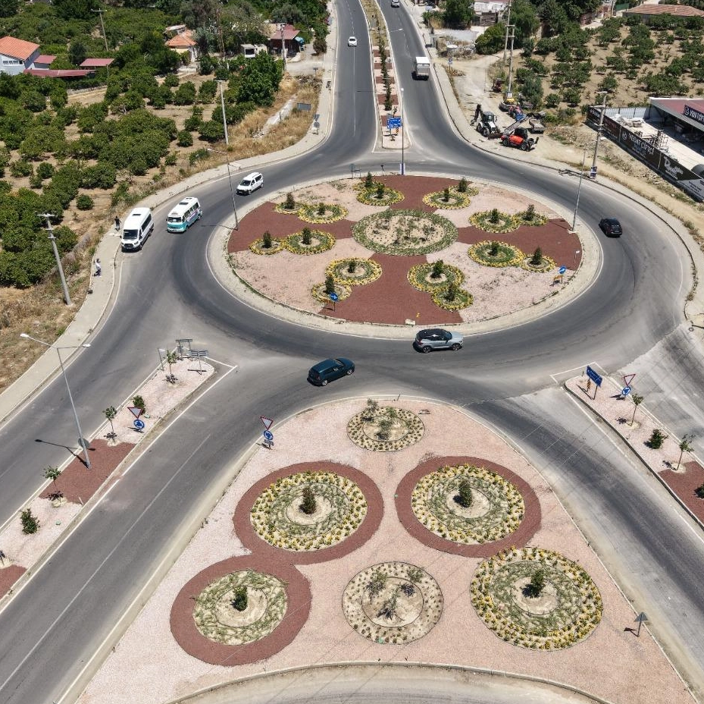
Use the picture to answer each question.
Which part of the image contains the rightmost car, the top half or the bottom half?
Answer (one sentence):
The top half of the photo is where the rightmost car is.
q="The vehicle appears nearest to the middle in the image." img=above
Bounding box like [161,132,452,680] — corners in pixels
[305,358,358,390]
